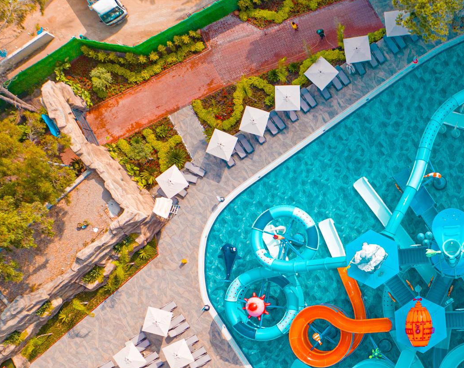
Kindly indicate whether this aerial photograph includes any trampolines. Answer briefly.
No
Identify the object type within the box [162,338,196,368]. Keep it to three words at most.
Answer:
umbrella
